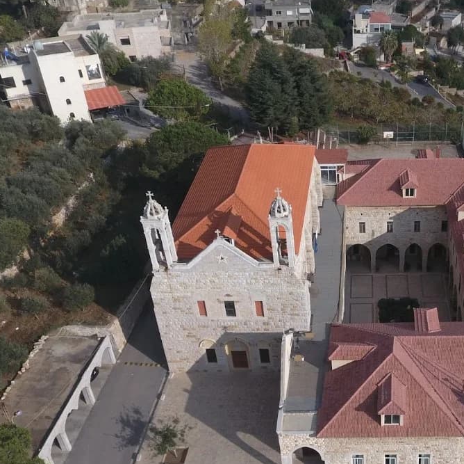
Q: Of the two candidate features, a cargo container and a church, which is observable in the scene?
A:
church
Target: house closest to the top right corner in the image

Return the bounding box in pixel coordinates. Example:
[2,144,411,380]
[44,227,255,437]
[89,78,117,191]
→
[435,0,463,26]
